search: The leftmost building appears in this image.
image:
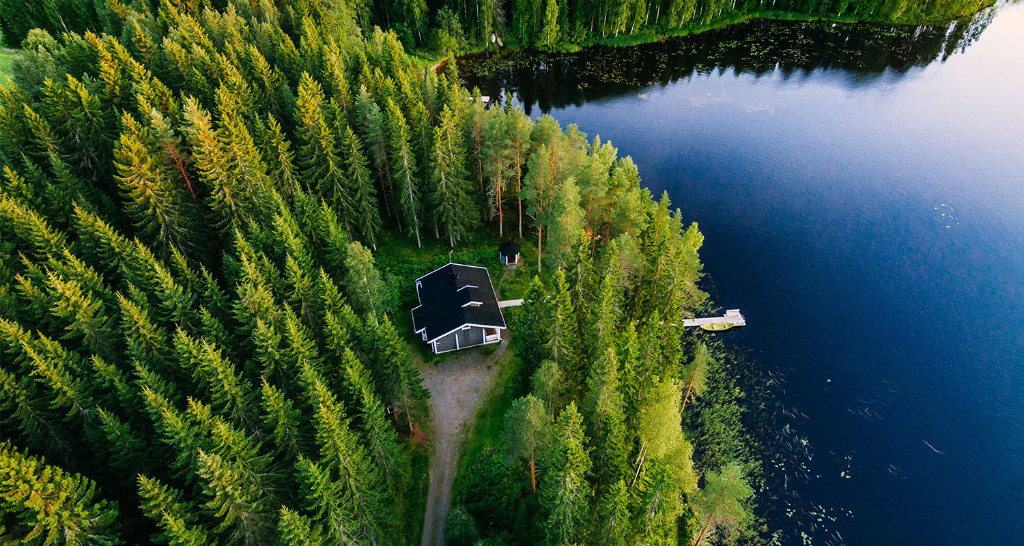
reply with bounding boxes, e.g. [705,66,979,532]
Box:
[410,247,507,353]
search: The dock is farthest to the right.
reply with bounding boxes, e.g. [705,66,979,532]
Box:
[691,308,747,328]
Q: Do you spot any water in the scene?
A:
Yes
